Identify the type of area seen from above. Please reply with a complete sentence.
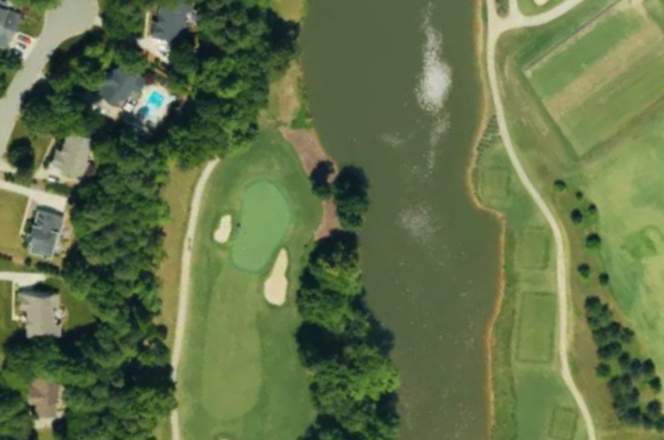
This looks like a golf course.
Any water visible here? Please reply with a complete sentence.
Yes, there is water in the image.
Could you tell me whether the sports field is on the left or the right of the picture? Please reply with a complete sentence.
The sports field sits on the right side.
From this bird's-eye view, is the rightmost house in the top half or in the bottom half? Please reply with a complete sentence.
The rightmost house sits in the top half of the picture.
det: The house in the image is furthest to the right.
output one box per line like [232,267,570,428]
[149,0,193,44]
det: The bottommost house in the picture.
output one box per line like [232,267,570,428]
[27,378,62,419]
